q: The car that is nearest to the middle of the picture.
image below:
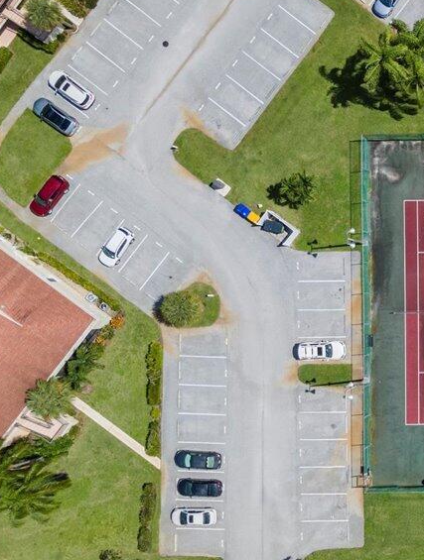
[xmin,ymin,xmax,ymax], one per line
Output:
[100,227,136,270]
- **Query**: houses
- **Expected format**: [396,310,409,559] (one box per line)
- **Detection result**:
[0,0,29,57]
[0,235,113,448]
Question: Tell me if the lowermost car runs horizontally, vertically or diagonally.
horizontally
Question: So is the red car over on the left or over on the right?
left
